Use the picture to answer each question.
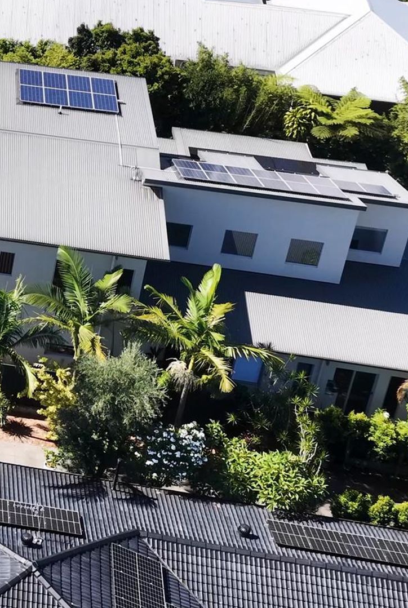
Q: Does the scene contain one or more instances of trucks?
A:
No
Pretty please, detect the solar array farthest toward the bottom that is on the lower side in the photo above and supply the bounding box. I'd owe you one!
[111,543,166,608]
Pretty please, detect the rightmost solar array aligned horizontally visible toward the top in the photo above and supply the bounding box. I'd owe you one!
[361,183,397,198]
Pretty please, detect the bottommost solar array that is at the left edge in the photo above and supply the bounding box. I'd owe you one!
[0,500,84,537]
